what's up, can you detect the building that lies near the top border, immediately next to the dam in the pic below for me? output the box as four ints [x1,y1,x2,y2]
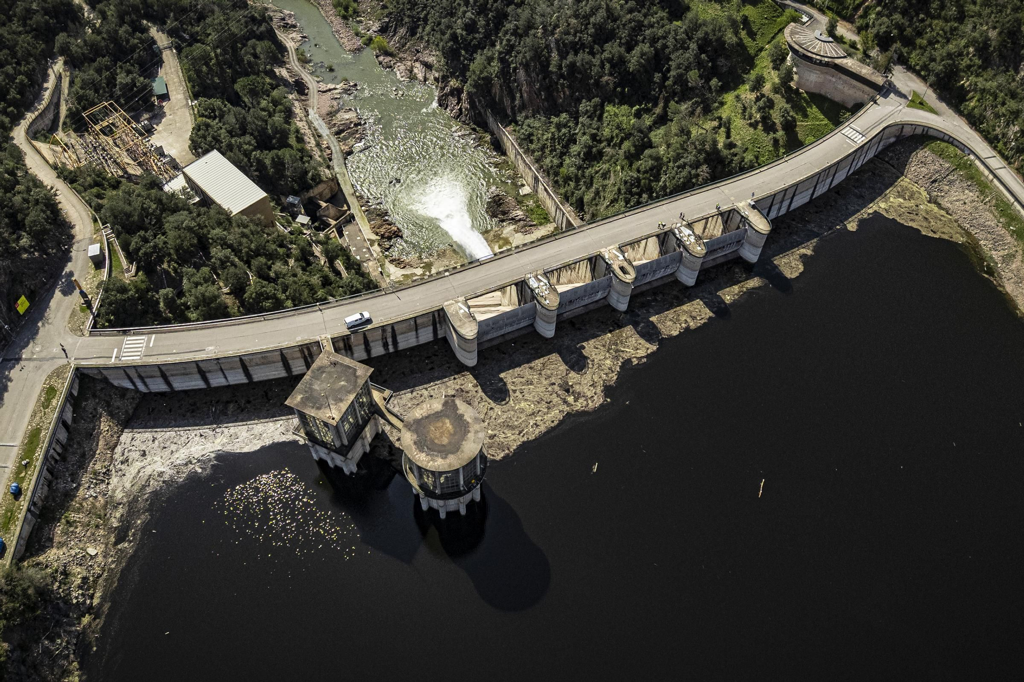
[783,23,887,94]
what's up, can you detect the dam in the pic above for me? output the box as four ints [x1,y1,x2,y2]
[76,93,1024,395]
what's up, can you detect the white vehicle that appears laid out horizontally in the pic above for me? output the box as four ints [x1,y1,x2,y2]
[343,313,372,328]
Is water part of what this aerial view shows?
Yes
